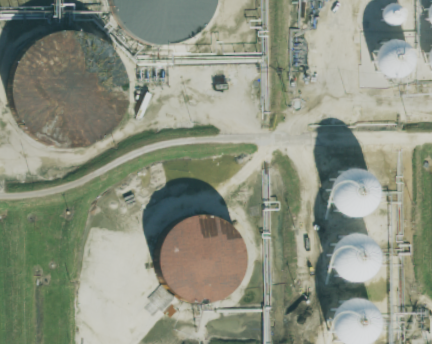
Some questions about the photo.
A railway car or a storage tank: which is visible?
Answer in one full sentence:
I can see a storage tank in this picture.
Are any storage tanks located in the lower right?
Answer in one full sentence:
Yes, a storage tank appears in the lower right.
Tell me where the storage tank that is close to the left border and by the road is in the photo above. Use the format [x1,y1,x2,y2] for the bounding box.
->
[6,29,128,146]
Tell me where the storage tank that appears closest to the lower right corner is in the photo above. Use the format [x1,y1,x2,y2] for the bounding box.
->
[324,298,384,344]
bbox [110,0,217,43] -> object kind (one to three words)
storage tank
